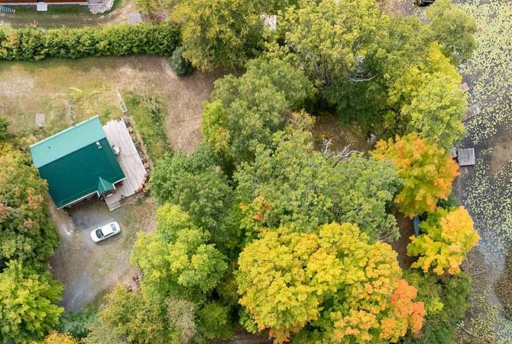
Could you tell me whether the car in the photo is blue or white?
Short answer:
white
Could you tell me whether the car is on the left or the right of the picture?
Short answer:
left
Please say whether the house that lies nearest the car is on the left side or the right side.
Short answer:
left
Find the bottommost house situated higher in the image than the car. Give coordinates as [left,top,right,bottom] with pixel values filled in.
[29,115,147,211]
